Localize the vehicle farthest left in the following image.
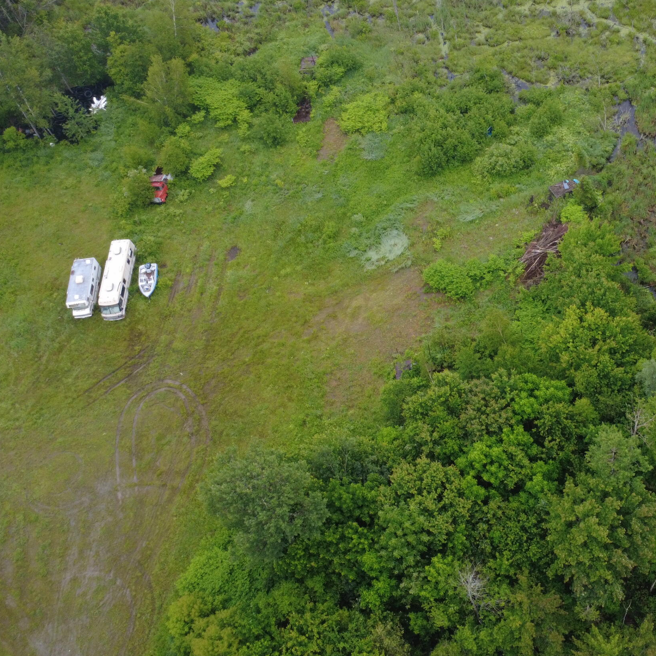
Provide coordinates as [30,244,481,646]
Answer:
[68,258,103,324]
